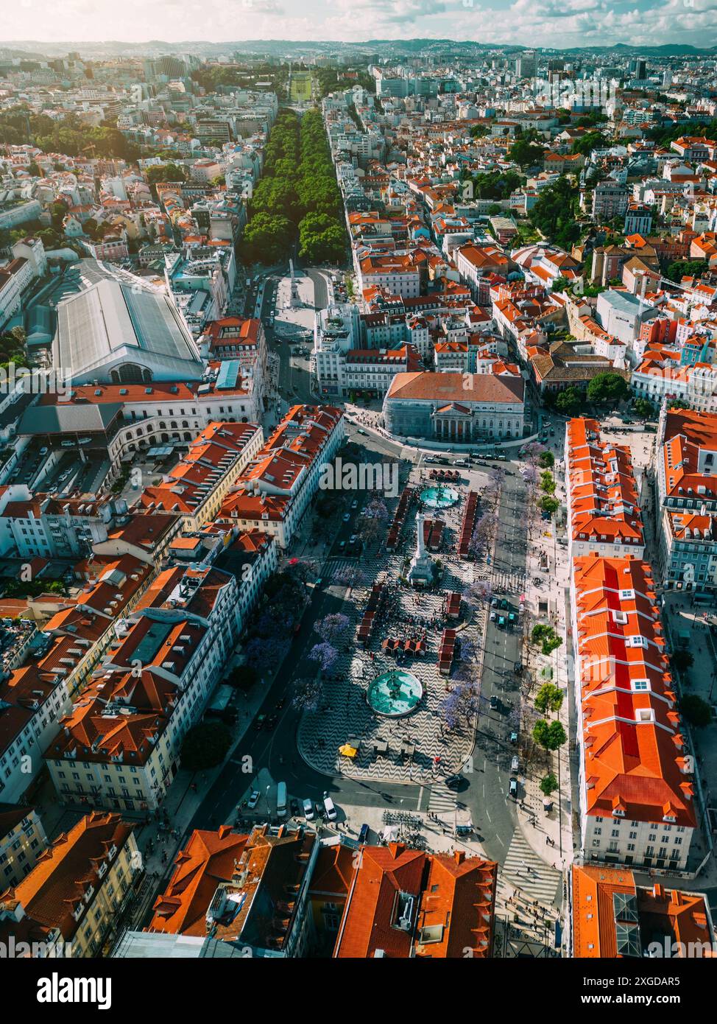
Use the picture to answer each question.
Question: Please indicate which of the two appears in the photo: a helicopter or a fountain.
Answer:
fountain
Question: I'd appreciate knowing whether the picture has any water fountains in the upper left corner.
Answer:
No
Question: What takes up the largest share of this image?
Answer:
buildings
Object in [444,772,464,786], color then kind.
black car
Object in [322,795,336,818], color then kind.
white vehicle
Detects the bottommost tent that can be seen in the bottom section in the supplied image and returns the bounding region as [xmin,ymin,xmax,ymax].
[377,821,401,847]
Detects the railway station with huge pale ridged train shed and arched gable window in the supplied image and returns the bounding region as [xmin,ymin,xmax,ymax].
[60,268,201,387]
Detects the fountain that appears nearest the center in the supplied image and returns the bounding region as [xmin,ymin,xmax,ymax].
[419,481,458,508]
